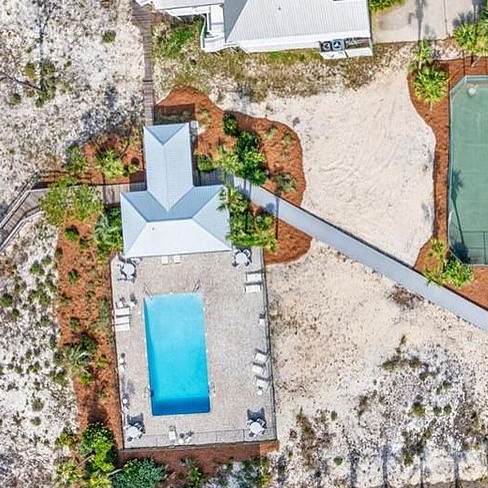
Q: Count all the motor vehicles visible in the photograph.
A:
0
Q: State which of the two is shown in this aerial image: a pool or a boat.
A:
pool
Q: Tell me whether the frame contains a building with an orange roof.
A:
No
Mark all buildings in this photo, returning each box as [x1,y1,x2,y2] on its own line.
[137,0,373,55]
[120,123,235,258]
